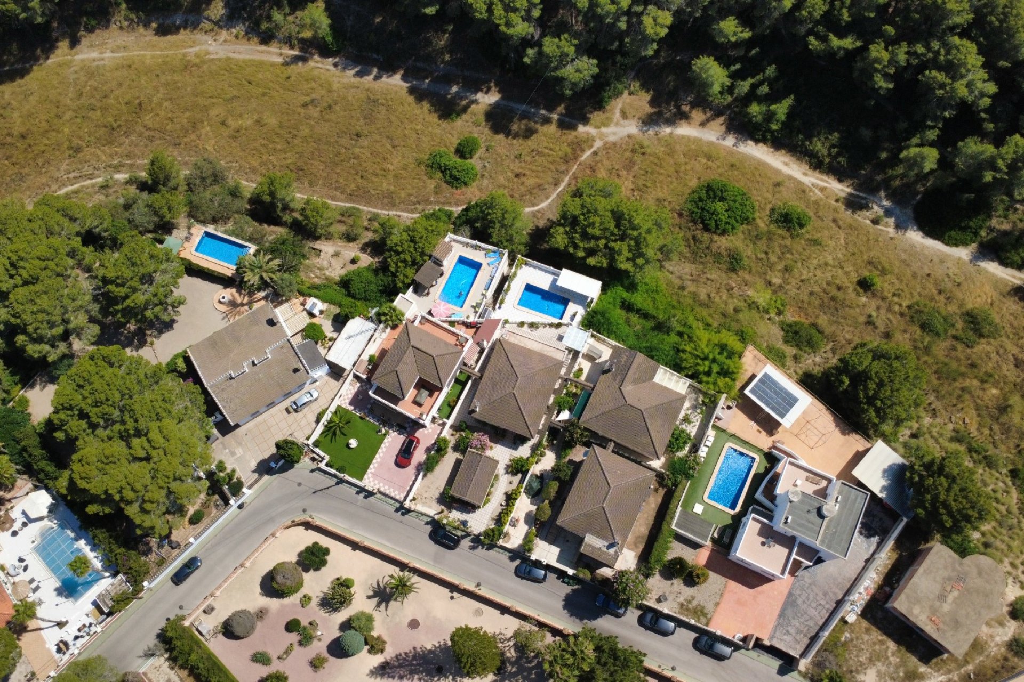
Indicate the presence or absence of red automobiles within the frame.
Yes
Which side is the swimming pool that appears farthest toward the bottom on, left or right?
left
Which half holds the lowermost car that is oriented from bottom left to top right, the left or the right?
left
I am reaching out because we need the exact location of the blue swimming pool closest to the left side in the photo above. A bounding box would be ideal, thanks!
[31,523,106,603]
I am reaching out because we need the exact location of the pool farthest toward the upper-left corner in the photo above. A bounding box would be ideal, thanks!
[191,227,257,273]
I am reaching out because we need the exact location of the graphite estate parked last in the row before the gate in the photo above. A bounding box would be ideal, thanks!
[692,632,737,664]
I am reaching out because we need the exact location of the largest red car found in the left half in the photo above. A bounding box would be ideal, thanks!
[395,432,422,470]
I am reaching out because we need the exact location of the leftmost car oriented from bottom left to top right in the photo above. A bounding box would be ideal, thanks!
[166,553,207,590]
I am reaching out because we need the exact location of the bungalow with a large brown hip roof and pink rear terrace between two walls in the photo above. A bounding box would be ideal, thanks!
[470,329,567,441]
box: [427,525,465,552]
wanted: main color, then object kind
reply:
black car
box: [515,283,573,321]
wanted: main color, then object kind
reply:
blue swimming pool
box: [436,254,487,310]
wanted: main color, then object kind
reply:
blue swimming pool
